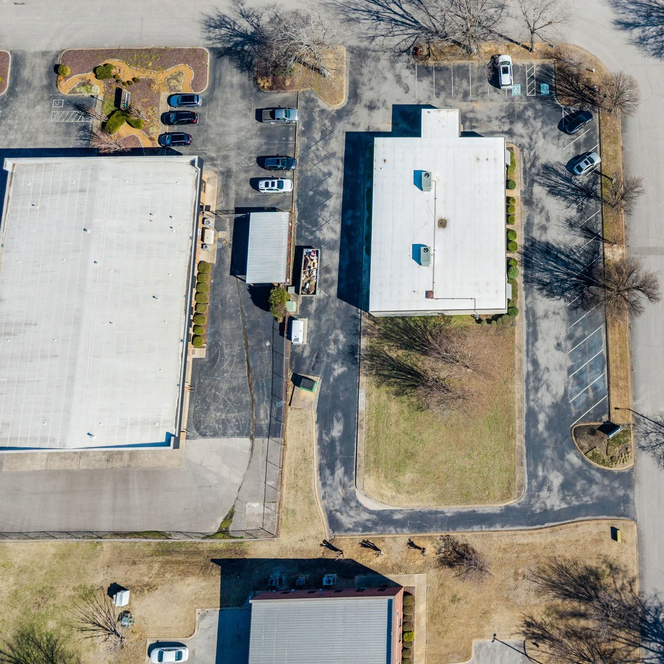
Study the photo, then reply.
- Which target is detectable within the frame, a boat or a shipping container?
shipping container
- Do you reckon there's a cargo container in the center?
Yes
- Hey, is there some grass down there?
Yes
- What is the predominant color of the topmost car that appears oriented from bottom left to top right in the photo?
black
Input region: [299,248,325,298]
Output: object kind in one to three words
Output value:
shipping container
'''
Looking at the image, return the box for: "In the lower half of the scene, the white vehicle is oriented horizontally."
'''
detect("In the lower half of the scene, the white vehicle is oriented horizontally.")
[151,645,190,664]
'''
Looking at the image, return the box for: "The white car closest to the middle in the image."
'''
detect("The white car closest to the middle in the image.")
[257,177,295,193]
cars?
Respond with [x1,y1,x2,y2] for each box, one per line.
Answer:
[564,111,594,136]
[257,177,295,193]
[168,92,203,109]
[264,155,298,171]
[158,131,193,147]
[572,153,601,177]
[163,110,198,126]
[498,57,513,89]
[151,645,190,664]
